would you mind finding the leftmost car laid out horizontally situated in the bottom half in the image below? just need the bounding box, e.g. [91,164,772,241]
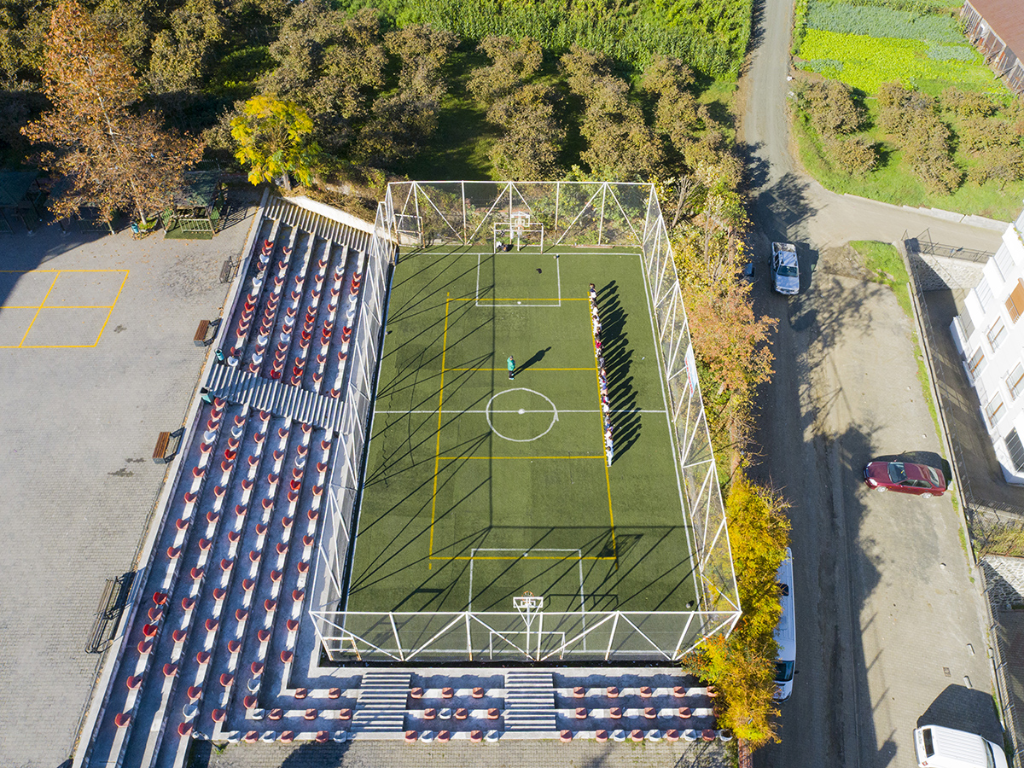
[865,466,952,504]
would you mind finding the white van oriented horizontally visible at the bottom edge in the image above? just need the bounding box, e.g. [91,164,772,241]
[911,722,1016,768]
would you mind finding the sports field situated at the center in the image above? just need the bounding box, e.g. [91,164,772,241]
[331,243,710,663]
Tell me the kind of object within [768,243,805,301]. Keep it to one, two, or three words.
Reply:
truck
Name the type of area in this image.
sports ground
